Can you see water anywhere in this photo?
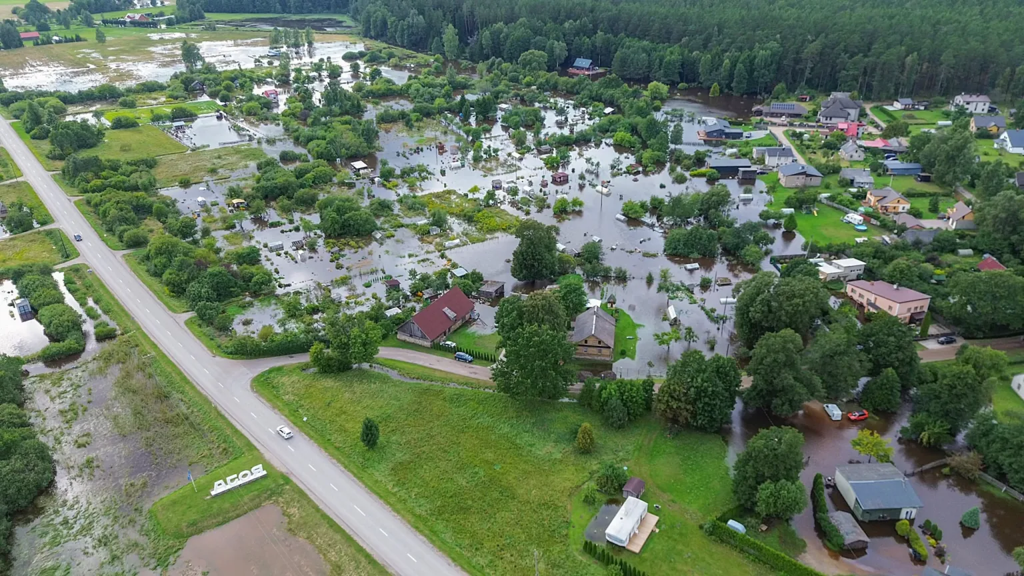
Yes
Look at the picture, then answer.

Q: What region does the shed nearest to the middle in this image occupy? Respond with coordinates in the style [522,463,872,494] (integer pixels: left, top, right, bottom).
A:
[480,278,504,301]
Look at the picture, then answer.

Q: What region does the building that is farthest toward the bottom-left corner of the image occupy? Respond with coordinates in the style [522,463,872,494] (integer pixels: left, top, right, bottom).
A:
[9,299,32,321]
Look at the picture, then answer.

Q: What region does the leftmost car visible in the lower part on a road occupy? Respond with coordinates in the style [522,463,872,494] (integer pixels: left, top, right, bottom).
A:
[276,425,293,439]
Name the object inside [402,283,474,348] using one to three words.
barn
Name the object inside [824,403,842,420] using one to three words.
vehicle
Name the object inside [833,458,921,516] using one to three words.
shed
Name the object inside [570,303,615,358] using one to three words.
house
